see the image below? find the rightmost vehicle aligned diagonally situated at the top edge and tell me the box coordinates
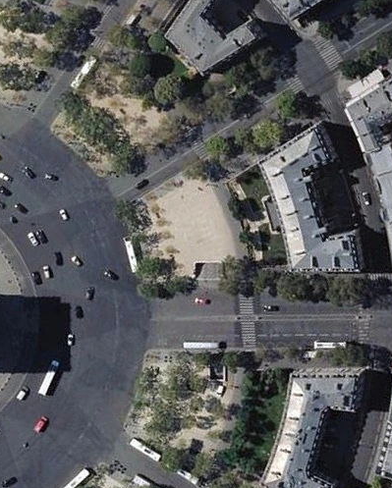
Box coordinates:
[126,10,139,27]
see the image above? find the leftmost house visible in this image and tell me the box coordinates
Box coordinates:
[164,0,260,72]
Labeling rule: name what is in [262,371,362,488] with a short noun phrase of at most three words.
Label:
house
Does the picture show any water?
No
